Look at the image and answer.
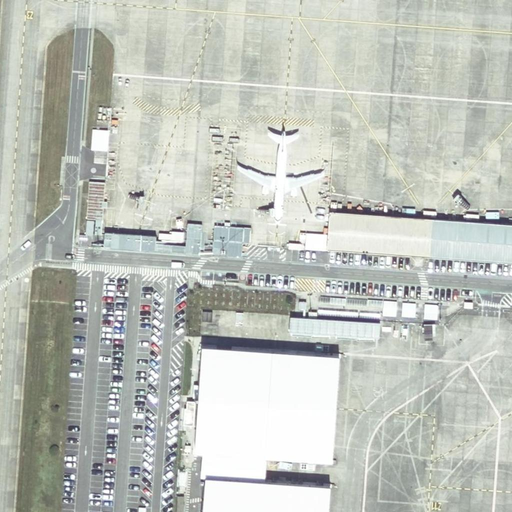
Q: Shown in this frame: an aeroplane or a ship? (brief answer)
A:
aeroplane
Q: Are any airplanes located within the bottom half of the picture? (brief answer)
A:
No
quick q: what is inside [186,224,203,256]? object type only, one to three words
building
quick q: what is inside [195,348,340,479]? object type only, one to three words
hangar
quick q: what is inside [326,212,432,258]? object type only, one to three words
shed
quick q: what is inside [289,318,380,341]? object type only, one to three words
building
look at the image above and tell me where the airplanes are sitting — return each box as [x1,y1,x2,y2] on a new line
[238,130,324,222]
